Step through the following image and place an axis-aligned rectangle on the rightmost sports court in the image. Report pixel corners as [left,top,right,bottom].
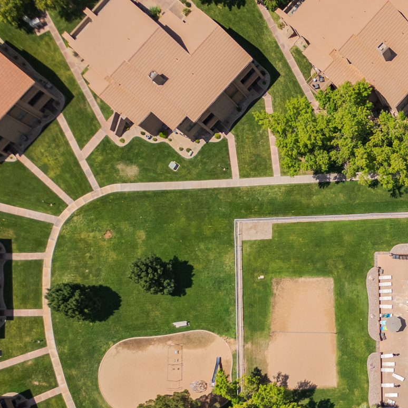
[265,277,336,389]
